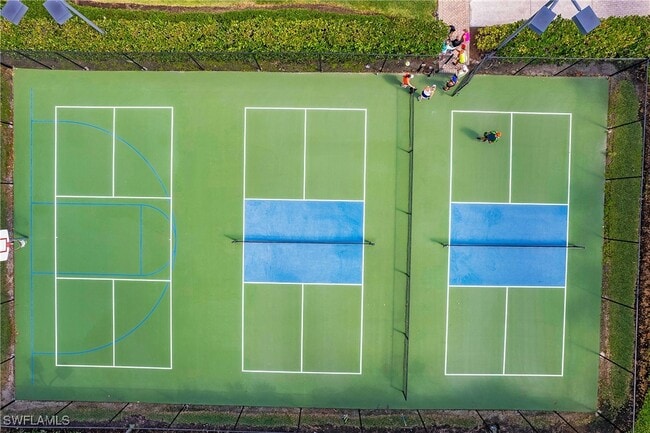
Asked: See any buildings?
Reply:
No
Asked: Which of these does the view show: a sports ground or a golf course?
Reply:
sports ground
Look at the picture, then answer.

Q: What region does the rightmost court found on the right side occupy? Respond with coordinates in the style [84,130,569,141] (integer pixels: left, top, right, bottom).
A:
[445,110,572,376]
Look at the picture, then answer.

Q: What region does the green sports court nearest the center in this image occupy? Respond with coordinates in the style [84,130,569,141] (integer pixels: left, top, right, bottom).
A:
[242,107,367,375]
